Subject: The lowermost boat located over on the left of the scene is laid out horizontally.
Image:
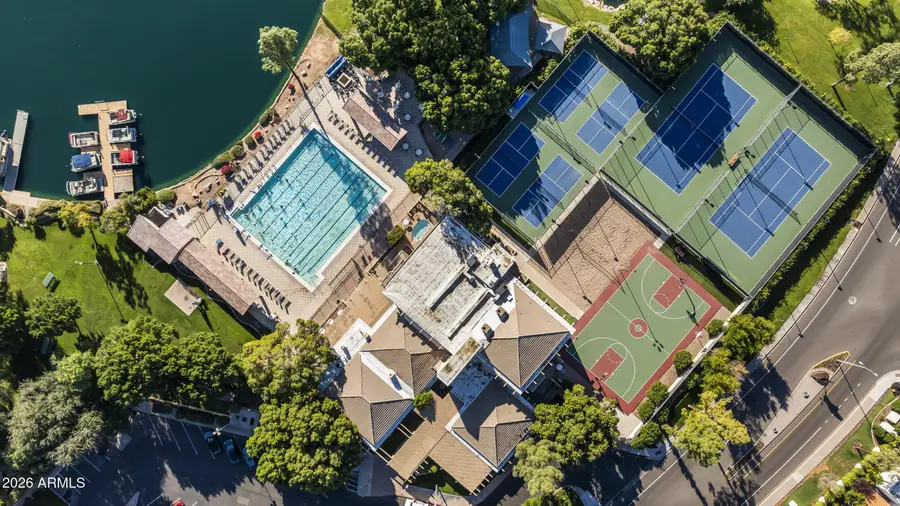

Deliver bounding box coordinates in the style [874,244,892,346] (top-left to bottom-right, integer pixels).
[58,178,101,197]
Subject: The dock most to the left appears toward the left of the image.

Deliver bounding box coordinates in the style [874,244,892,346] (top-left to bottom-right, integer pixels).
[3,110,30,192]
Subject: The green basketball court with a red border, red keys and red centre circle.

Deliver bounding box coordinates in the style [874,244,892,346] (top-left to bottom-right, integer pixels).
[557,241,722,415]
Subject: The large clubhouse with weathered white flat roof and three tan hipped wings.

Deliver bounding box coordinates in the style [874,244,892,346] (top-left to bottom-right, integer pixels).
[311,216,574,473]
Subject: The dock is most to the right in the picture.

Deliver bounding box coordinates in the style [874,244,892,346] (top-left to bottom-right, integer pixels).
[75,100,133,200]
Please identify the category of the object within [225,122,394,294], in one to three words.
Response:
swimming pool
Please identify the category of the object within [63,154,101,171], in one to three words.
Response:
boat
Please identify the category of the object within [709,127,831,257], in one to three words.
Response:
tennis court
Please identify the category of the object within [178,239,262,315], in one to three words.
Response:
building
